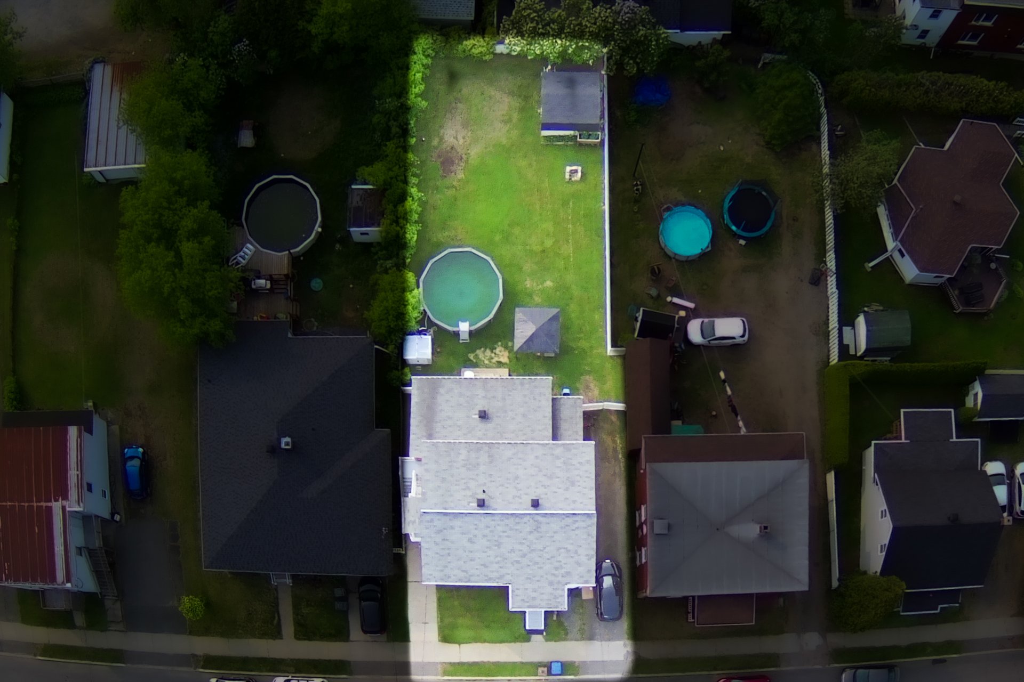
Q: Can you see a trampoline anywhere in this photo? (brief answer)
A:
Yes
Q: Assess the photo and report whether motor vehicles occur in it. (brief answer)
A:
Yes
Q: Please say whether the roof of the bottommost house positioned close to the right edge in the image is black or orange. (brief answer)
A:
black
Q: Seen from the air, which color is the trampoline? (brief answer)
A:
black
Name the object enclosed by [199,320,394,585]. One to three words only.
house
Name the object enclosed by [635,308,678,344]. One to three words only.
trailer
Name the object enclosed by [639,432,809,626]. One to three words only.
house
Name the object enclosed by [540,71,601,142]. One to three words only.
shed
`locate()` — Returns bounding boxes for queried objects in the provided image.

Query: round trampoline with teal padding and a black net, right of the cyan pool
[721,172,782,238]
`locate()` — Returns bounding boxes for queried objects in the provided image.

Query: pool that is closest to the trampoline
[654,202,715,266]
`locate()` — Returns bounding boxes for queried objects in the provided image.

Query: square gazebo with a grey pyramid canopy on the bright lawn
[515,307,559,361]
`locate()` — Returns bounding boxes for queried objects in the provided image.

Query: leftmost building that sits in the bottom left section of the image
[0,411,140,609]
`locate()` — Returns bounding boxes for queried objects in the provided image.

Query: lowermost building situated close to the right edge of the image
[863,409,1013,615]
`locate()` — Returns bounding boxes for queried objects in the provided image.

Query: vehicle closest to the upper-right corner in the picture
[687,315,748,348]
